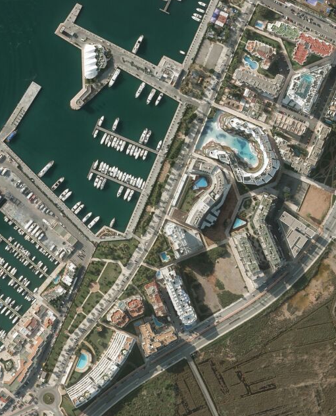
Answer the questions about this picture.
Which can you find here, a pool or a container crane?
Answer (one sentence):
This aerial view contains a pool.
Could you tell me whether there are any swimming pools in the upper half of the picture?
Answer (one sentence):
Yes, a swimming pool appears in the upper half of the picture.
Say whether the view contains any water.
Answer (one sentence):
Yes, there is water in the image.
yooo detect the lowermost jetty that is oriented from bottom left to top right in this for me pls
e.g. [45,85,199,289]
[0,82,41,152]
